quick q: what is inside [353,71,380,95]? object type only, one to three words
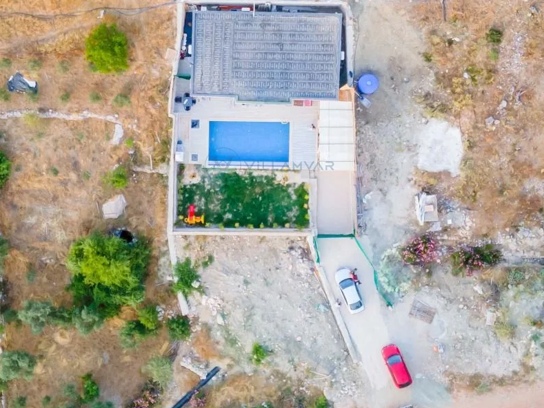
water tank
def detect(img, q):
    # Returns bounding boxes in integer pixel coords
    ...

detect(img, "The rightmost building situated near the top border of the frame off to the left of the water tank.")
[191,12,342,105]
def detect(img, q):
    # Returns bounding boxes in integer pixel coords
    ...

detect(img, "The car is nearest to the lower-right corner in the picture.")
[384,345,413,392]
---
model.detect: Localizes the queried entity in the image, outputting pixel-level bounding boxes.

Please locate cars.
[384,345,413,392]
[334,267,366,318]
